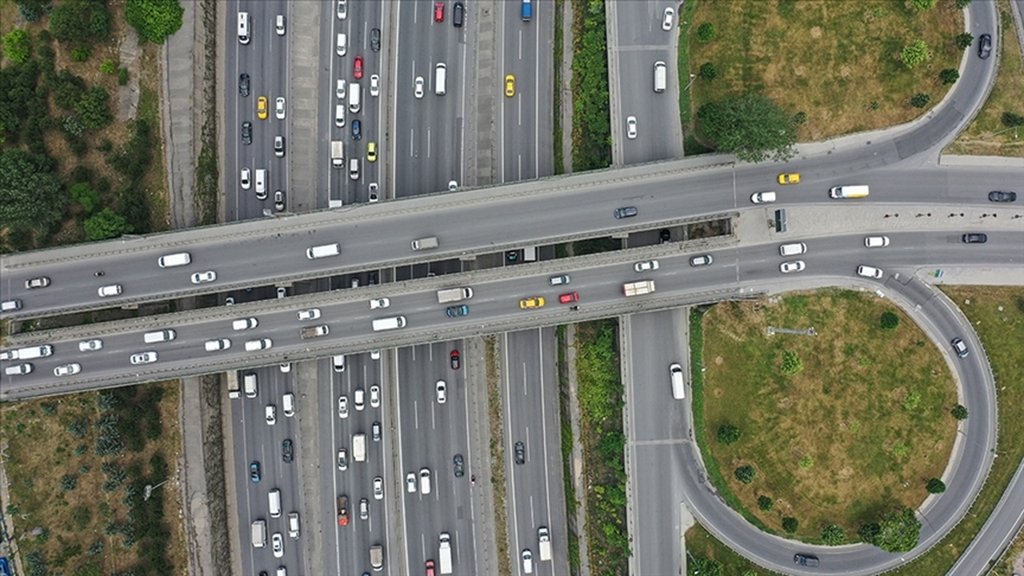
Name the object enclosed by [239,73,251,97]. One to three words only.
vehicle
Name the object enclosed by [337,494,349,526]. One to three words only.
vehicle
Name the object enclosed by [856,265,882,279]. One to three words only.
car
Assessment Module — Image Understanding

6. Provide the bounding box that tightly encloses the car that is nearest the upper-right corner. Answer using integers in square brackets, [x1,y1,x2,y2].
[976,34,990,60]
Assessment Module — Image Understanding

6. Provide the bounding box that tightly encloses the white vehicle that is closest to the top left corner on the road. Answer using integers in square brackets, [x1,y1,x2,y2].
[237,10,251,45]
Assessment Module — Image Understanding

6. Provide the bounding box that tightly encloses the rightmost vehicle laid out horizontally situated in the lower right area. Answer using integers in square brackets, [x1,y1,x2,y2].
[793,552,820,566]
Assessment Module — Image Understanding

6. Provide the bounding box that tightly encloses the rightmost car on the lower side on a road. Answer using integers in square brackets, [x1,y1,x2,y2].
[949,336,968,359]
